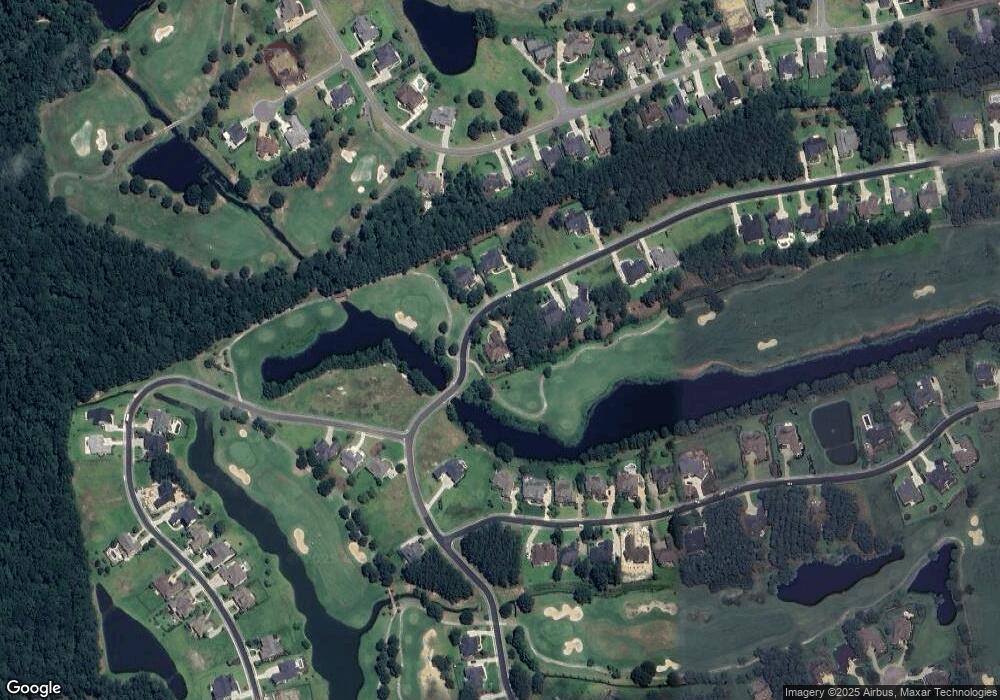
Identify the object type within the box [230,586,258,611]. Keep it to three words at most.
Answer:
house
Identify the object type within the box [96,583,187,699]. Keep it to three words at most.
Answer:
pond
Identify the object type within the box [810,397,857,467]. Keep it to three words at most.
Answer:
pond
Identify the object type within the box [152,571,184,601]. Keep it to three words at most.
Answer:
house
